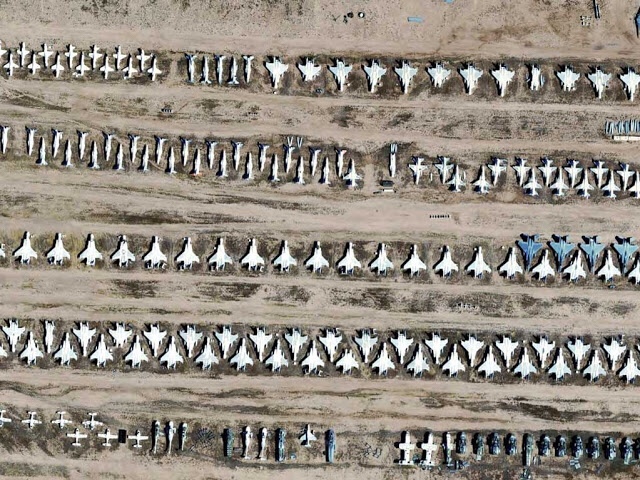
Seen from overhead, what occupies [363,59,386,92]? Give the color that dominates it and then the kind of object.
white airplane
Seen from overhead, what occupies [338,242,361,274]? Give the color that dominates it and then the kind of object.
white airplane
